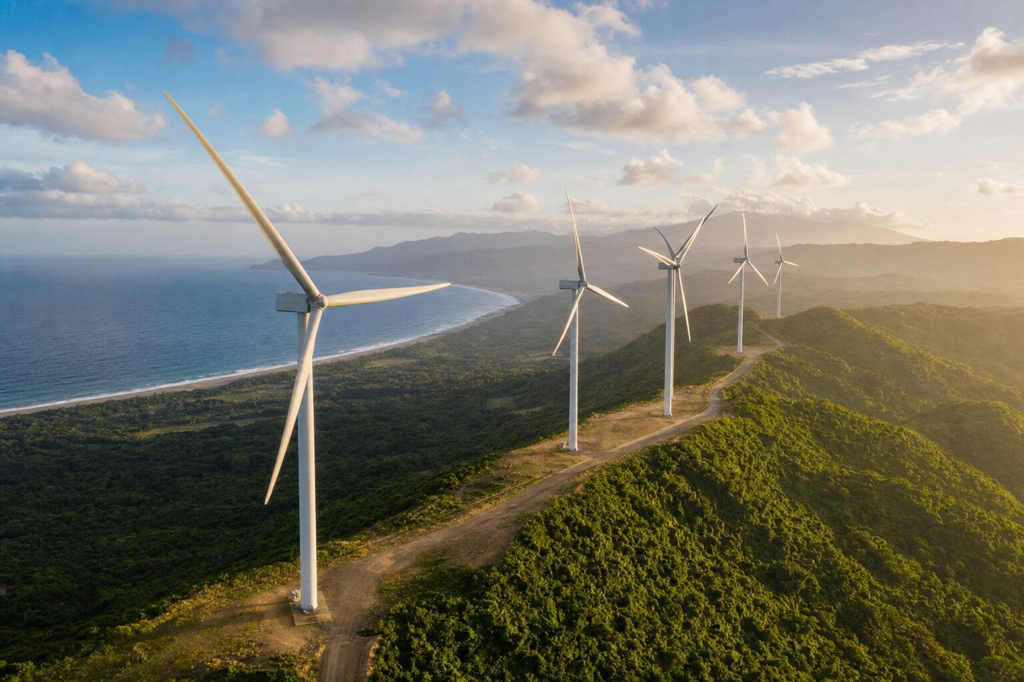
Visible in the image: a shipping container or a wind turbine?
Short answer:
wind turbine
